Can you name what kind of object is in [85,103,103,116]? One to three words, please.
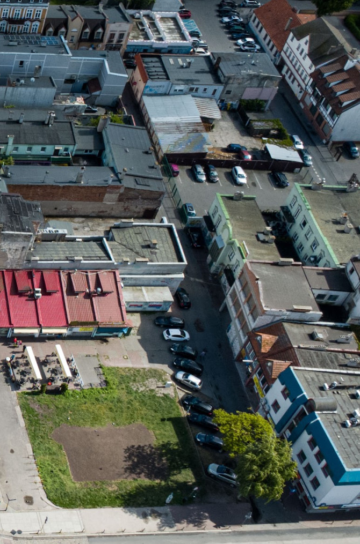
vehicle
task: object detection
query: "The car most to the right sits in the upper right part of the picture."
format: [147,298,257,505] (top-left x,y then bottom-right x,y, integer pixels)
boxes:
[343,139,360,157]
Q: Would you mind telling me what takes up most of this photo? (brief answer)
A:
buildings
